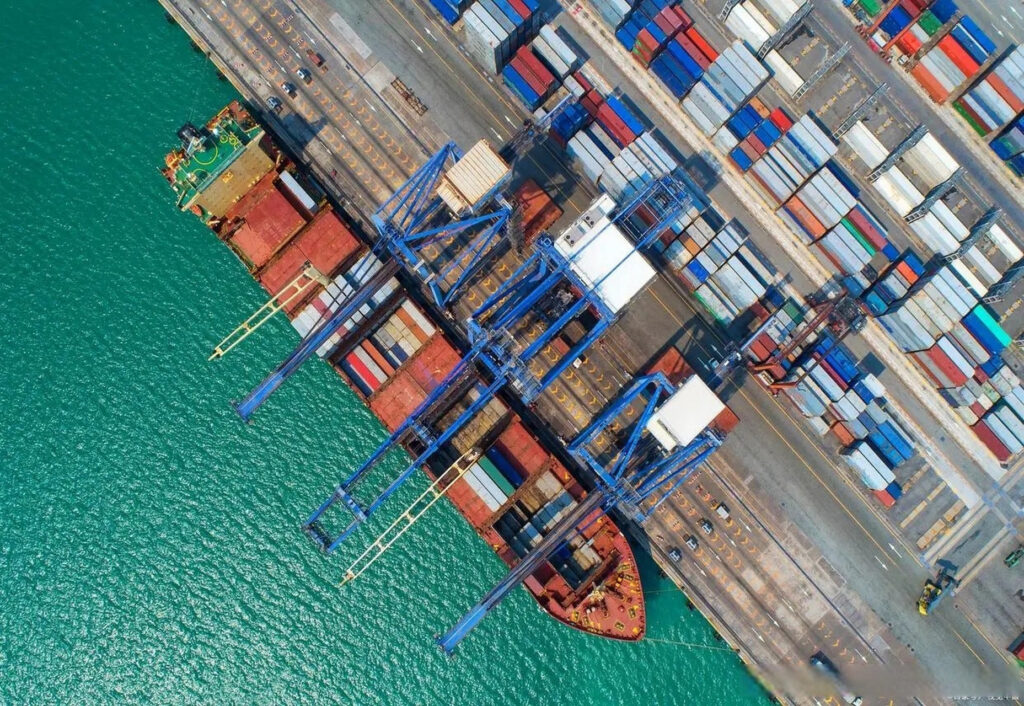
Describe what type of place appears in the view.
port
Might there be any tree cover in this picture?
No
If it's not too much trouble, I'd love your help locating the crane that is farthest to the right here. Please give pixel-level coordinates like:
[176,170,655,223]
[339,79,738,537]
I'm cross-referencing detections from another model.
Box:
[860,0,951,57]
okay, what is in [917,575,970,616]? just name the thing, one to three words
work vehicle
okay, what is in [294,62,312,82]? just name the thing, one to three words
vehicle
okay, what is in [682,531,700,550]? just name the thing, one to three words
vehicle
